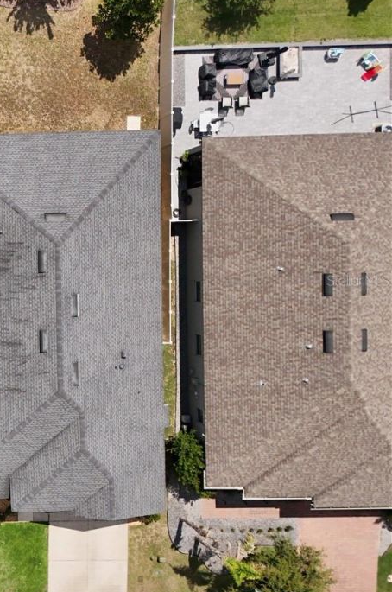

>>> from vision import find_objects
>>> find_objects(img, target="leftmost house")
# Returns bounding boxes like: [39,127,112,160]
[0,130,168,521]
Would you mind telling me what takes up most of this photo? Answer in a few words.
buildings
